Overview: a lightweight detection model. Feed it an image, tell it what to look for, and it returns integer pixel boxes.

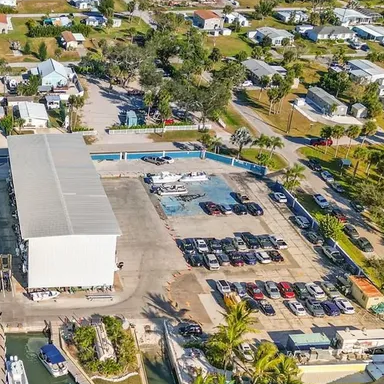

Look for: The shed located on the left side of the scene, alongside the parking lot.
[7,133,122,286]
